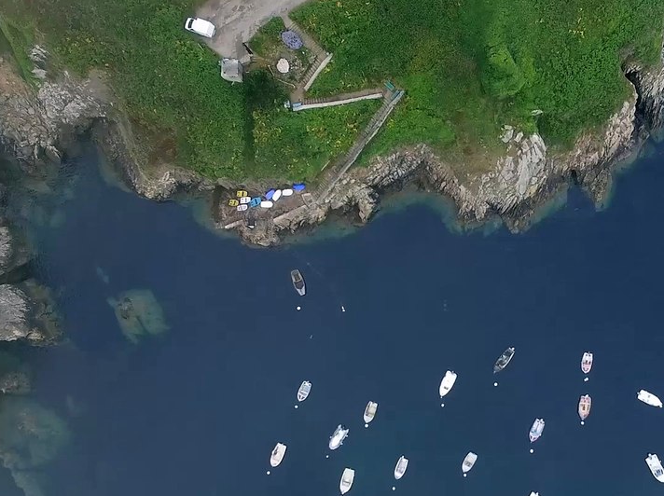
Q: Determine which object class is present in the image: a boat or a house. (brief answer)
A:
boat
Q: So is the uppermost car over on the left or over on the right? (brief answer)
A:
left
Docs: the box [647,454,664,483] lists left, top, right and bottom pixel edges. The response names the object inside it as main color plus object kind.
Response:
white boat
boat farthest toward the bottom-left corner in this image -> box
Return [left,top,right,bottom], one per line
[269,442,287,472]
